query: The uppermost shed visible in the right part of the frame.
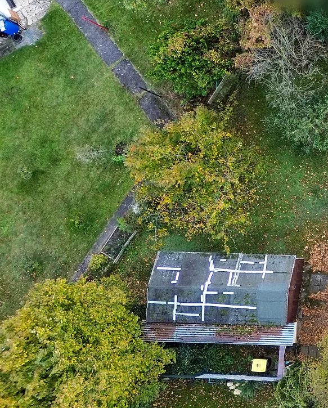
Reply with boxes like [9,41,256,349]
[146,251,305,326]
